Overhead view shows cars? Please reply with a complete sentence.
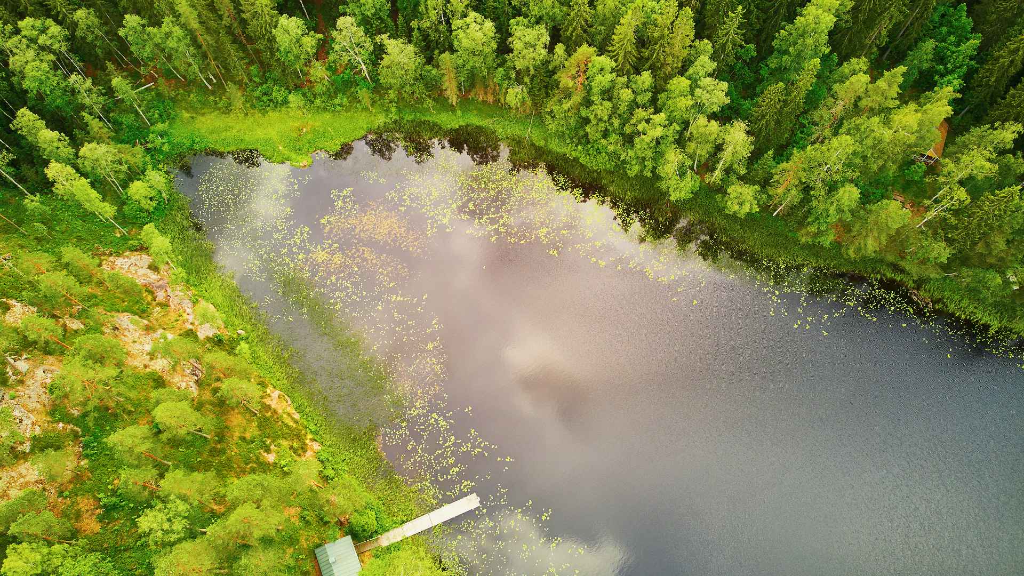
No, the picture doesn't show any car.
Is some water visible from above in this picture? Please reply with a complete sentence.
Yes, some water is visible.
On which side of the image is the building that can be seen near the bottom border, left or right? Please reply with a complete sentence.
The building that can be seen near the bottom border is on the left side of the image.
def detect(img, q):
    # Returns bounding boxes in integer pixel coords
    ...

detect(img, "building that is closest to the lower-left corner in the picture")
[314,533,364,576]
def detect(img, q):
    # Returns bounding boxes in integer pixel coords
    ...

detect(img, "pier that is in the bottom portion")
[354,493,481,554]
